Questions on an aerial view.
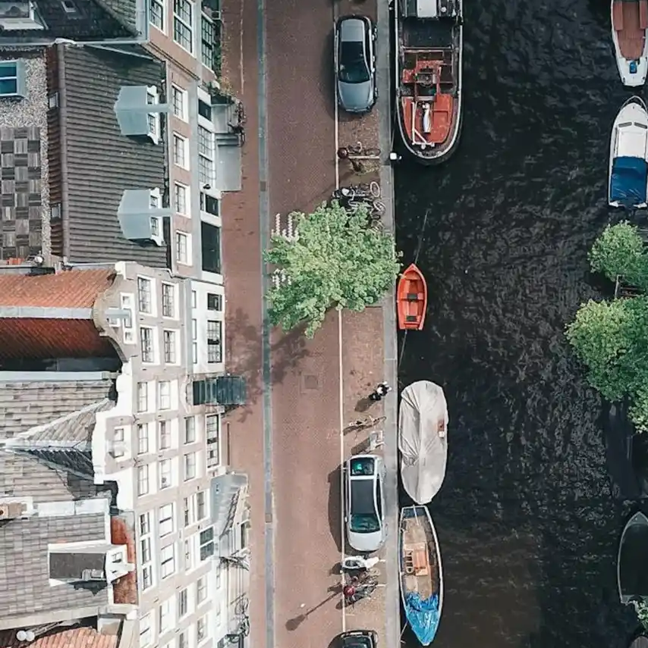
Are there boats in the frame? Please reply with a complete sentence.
Yes, there's a boat here.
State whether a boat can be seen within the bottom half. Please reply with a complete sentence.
Yes, within the bottom half there is a boat.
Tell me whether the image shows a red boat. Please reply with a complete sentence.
Yes, the picture does show a red boat.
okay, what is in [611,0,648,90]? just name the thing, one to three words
boat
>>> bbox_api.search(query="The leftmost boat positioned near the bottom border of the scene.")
[399,502,445,648]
